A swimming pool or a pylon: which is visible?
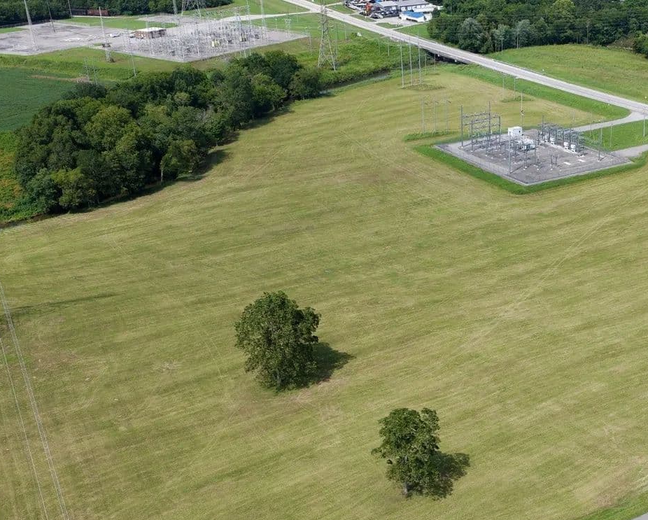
pylon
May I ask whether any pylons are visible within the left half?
Yes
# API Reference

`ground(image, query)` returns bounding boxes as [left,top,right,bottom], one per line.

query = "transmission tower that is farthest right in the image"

[308,0,338,68]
